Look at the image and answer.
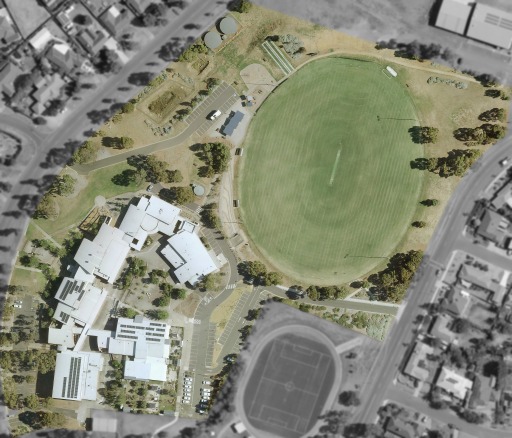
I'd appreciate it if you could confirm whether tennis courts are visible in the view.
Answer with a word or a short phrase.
No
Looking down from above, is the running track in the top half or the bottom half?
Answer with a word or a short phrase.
bottom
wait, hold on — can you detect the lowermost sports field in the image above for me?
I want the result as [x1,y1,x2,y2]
[238,326,342,438]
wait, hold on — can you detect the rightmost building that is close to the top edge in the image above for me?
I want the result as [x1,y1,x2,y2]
[467,0,512,50]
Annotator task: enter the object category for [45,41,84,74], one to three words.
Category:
house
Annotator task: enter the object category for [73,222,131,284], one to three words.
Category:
building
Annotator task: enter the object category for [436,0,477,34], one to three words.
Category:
building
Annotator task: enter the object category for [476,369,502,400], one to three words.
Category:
house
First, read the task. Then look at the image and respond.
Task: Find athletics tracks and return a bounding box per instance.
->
[238,326,342,438]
